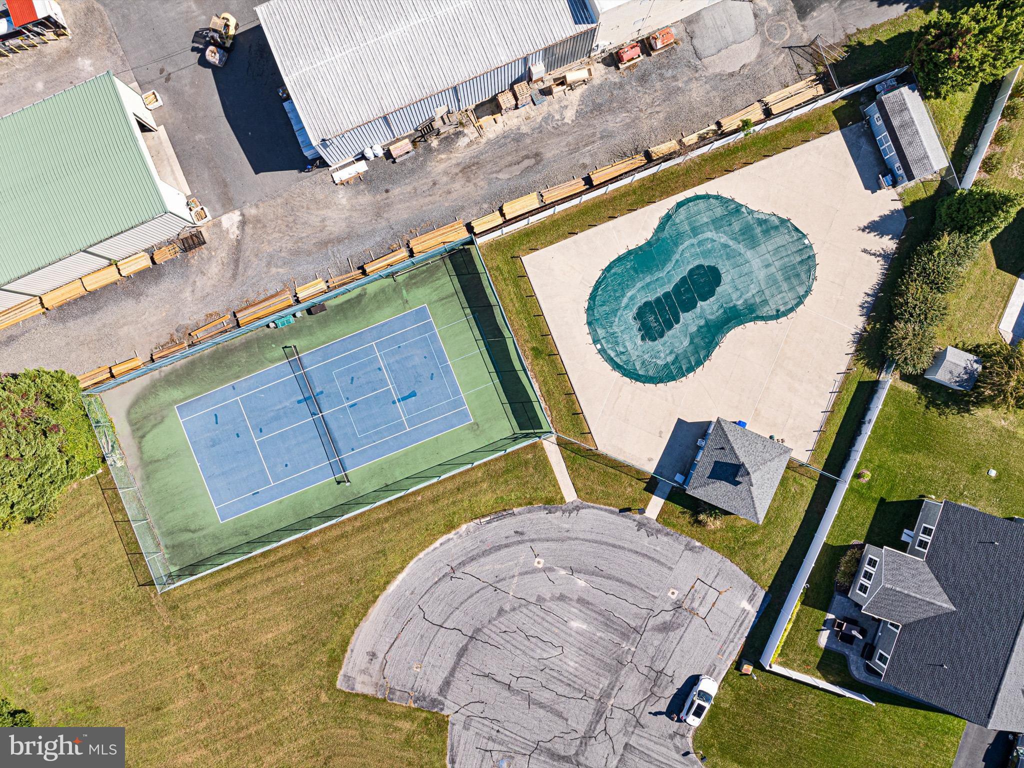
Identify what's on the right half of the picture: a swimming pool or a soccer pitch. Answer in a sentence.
The one visible on the right half of the picture is a swimming pool.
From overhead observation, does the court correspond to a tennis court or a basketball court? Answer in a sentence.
The court appears to be a tennis court.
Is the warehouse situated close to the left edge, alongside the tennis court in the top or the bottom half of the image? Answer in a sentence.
You can find the warehouse situated close to the left edge, alongside the tennis court in the top half.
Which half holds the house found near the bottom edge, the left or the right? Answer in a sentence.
The house found near the bottom edge is on the right side of the image.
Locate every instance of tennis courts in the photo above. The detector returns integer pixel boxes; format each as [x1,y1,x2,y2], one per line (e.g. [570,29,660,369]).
[98,243,551,585]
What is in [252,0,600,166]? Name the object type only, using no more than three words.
building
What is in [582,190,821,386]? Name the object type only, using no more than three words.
swimming pool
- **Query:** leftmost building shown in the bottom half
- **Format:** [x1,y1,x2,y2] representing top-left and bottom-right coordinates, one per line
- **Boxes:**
[684,417,794,525]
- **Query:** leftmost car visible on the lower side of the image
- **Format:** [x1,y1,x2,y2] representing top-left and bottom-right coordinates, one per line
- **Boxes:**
[681,671,717,728]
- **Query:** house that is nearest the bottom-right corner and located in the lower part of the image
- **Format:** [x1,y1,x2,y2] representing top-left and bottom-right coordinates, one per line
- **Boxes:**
[849,499,1024,734]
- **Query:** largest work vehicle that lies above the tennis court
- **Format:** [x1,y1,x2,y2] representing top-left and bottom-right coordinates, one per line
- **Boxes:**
[211,13,241,60]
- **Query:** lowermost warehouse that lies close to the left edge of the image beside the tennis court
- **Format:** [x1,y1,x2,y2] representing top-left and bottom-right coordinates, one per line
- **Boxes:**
[0,67,195,309]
